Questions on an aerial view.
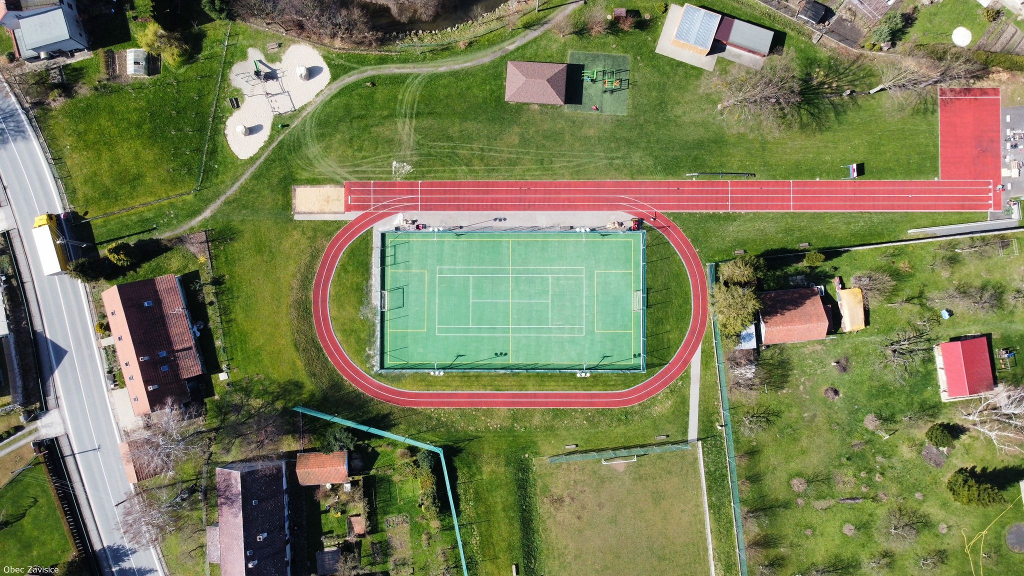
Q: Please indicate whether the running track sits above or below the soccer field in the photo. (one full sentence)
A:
The running track is above the soccer field.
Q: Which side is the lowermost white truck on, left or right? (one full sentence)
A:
It is on the left.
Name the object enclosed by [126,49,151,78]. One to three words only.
greenhouse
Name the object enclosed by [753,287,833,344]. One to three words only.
house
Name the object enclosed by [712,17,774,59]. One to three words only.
building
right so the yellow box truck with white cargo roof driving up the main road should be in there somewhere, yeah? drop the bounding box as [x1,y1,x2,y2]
[32,213,73,276]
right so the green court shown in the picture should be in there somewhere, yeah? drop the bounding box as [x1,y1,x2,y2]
[383,233,642,371]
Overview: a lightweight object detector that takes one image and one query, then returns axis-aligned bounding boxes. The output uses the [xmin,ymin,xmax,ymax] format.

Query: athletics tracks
[313,87,1002,408]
